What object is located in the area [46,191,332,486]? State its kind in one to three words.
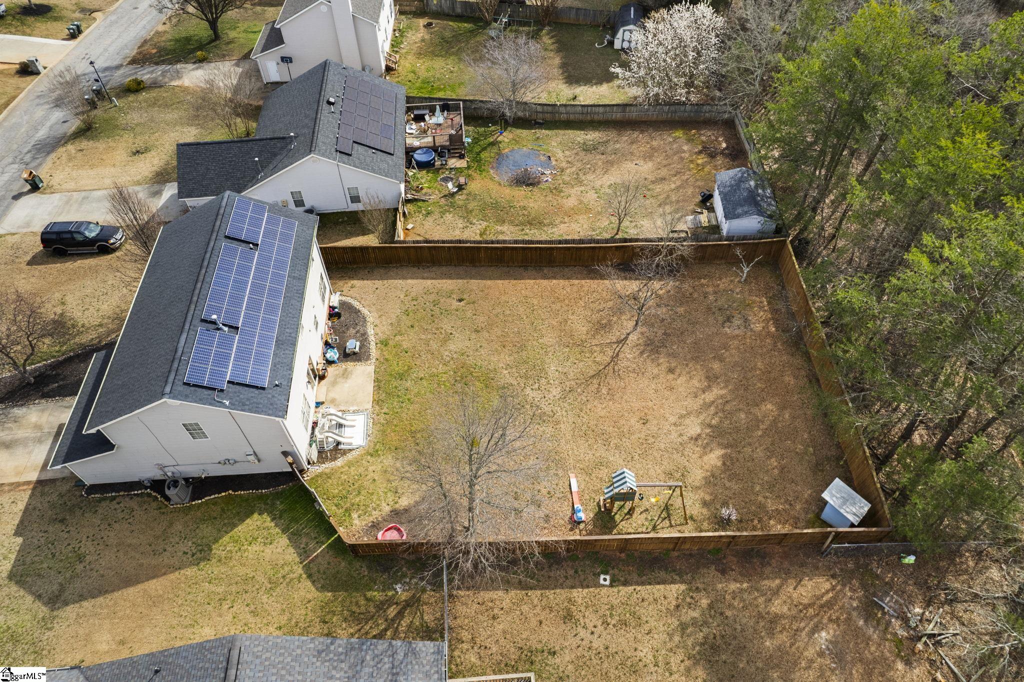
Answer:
house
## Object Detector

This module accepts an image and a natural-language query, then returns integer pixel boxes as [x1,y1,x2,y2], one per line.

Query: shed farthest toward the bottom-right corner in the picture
[816,480,878,531]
